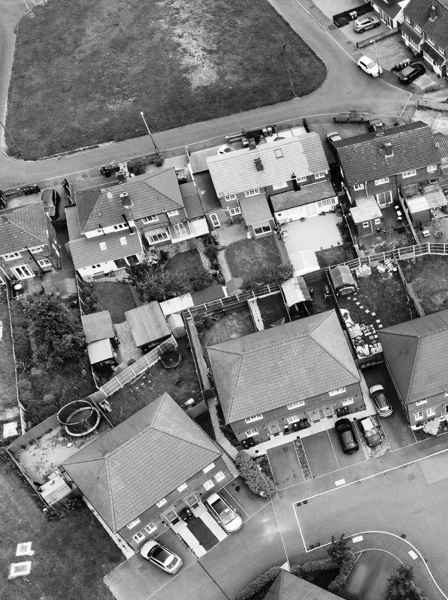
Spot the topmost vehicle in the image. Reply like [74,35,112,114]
[352,16,382,32]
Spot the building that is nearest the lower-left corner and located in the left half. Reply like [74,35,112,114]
[40,475,75,507]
